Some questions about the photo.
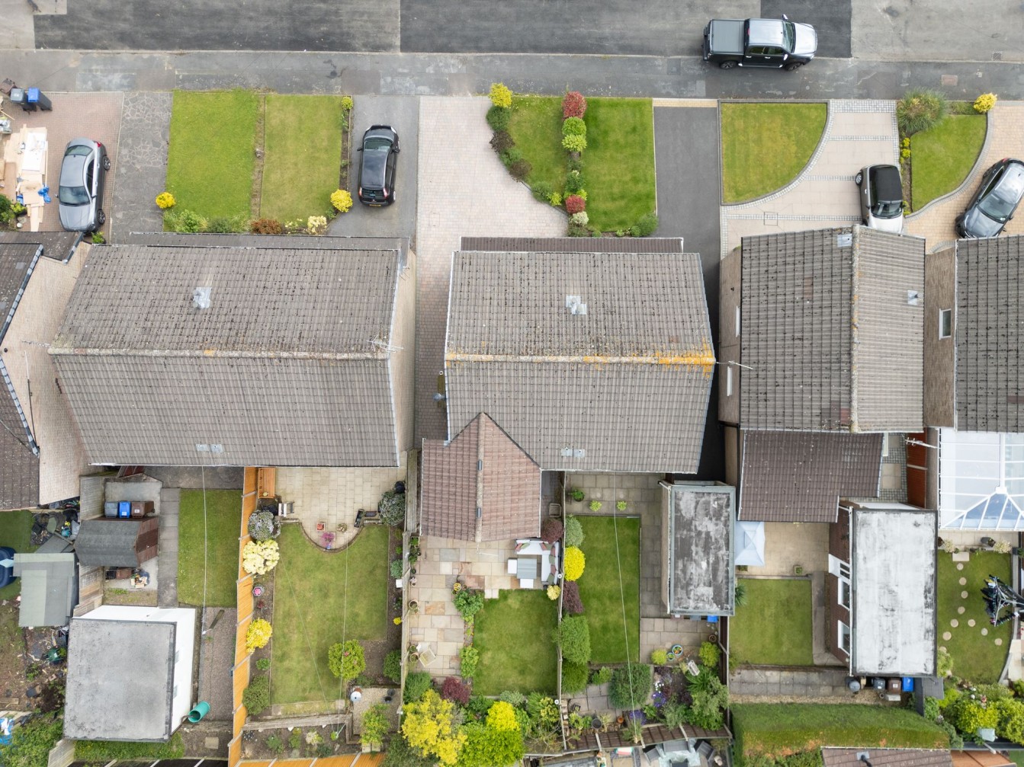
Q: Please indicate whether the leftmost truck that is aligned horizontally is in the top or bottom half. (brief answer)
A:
top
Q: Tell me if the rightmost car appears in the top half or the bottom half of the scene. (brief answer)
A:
top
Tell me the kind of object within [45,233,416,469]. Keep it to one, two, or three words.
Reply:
house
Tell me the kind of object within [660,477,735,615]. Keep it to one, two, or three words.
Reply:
building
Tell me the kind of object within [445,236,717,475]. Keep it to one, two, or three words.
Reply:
house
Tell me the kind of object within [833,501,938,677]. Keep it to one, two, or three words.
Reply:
shed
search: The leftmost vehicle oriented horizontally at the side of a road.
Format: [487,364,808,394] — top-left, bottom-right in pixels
[697,13,817,70]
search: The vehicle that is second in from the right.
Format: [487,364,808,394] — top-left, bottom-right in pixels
[857,160,911,231]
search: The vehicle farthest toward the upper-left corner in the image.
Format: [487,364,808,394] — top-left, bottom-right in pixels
[52,137,112,238]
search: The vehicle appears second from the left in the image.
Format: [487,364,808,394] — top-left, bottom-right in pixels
[356,125,402,210]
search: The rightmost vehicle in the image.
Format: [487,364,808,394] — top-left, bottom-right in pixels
[947,151,1024,240]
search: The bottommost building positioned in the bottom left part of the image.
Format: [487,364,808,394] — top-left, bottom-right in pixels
[64,602,199,742]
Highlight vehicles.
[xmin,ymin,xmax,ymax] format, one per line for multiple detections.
[857,160,911,231]
[52,137,112,238]
[697,13,817,70]
[947,151,1024,240]
[356,125,402,210]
